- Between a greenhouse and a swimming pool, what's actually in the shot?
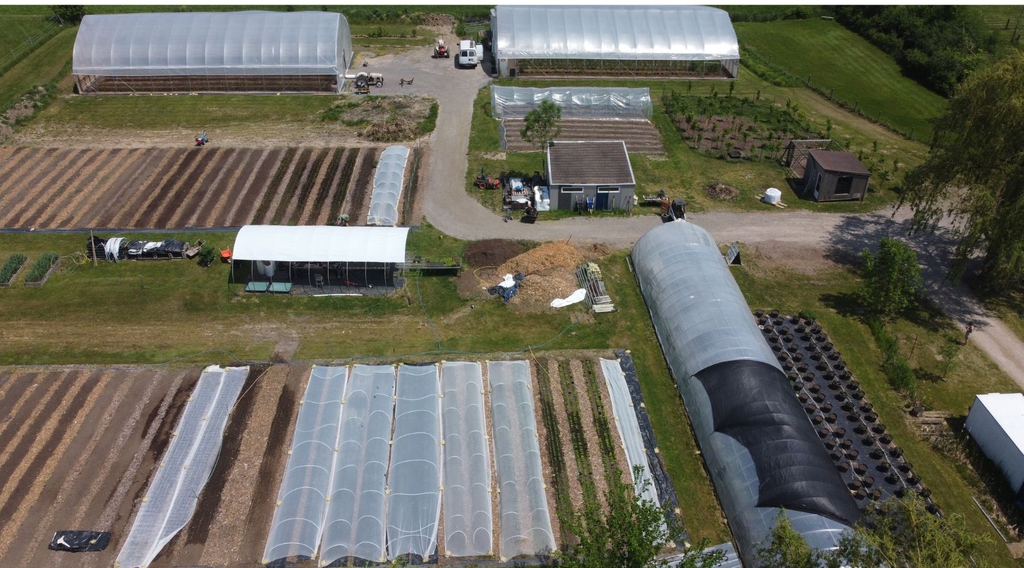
greenhouse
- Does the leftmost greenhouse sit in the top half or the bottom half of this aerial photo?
top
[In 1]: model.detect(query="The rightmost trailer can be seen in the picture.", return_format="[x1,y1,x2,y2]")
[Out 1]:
[968,391,1024,486]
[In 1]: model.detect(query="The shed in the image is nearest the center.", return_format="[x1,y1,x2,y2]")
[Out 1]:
[546,139,639,212]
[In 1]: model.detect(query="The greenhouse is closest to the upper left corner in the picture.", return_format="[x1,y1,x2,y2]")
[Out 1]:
[70,9,354,93]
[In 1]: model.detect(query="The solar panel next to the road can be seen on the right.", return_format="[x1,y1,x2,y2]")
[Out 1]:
[725,239,743,265]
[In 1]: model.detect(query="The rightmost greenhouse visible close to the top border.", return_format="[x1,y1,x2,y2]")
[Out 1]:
[489,3,743,78]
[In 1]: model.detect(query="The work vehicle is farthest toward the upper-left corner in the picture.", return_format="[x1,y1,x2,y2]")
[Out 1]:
[191,124,217,145]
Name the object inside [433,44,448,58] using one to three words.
work vehicle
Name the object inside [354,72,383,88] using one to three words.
work vehicle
